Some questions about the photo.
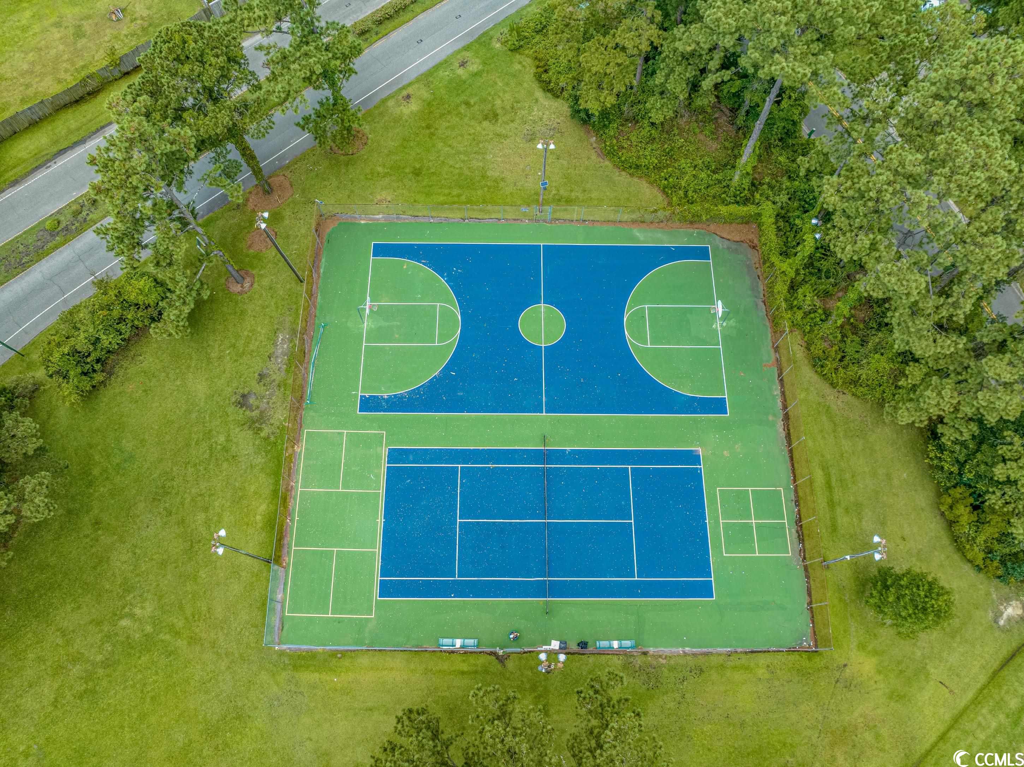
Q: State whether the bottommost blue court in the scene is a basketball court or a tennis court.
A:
tennis court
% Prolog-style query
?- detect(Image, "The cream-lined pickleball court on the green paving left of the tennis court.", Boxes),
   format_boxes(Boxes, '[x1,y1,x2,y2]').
[285,431,385,616]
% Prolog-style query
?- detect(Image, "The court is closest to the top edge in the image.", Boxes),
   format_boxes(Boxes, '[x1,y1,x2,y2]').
[359,243,729,415]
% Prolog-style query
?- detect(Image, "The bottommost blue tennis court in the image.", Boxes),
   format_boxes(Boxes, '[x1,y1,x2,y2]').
[378,447,715,600]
